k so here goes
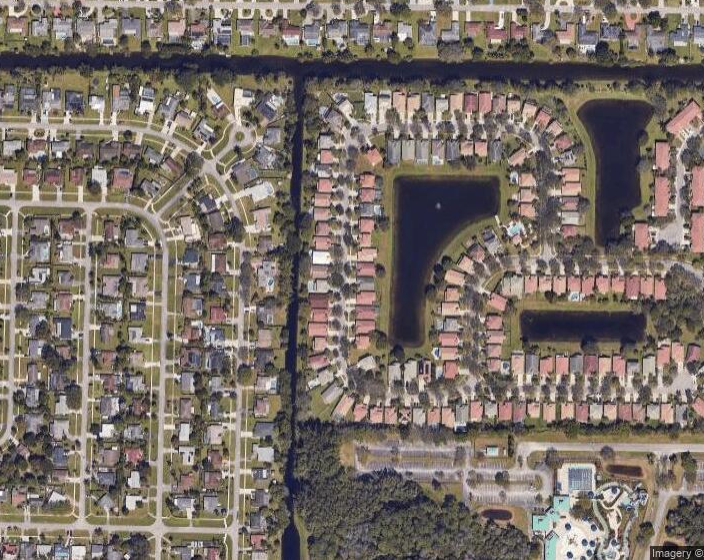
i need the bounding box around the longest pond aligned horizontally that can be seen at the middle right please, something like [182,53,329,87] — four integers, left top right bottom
[521,311,646,341]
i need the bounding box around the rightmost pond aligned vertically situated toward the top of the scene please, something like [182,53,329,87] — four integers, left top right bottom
[580,99,650,245]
